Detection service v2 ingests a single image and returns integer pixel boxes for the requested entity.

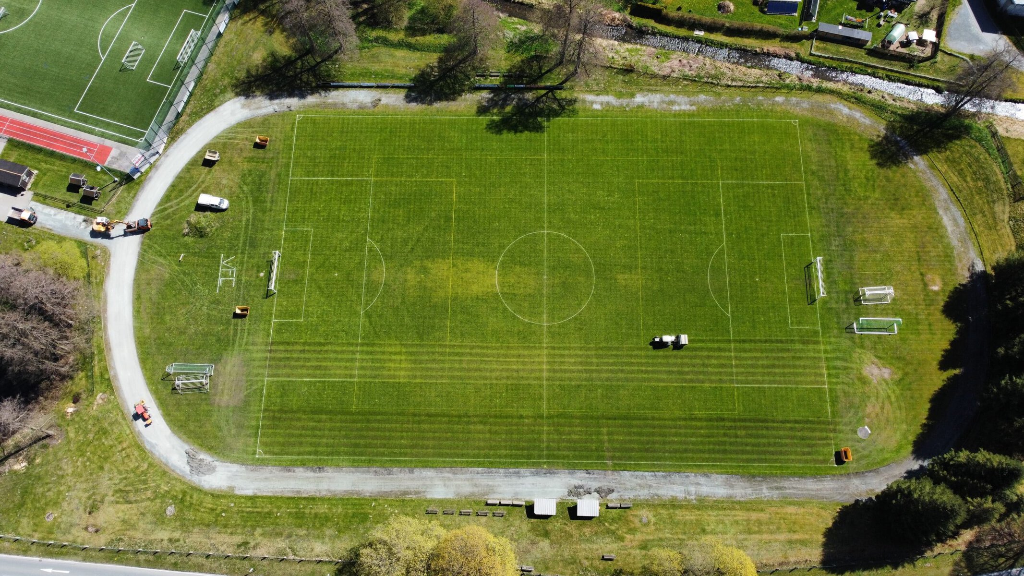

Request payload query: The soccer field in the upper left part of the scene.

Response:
[0,0,223,150]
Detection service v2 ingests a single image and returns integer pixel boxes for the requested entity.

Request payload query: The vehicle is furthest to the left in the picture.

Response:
[6,208,39,226]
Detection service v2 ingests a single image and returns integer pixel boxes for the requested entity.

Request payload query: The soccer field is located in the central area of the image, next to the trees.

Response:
[241,111,887,479]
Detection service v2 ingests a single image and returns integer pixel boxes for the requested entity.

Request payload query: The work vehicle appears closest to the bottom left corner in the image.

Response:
[132,402,154,428]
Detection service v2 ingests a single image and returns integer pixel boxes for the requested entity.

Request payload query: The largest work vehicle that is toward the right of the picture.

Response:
[655,334,677,347]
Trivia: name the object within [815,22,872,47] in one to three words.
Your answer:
shed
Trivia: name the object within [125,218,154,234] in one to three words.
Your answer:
vehicle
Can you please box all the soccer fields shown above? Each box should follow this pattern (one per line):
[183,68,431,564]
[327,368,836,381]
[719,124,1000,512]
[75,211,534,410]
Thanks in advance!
[0,0,223,150]
[241,111,887,479]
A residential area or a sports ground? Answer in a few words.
sports ground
